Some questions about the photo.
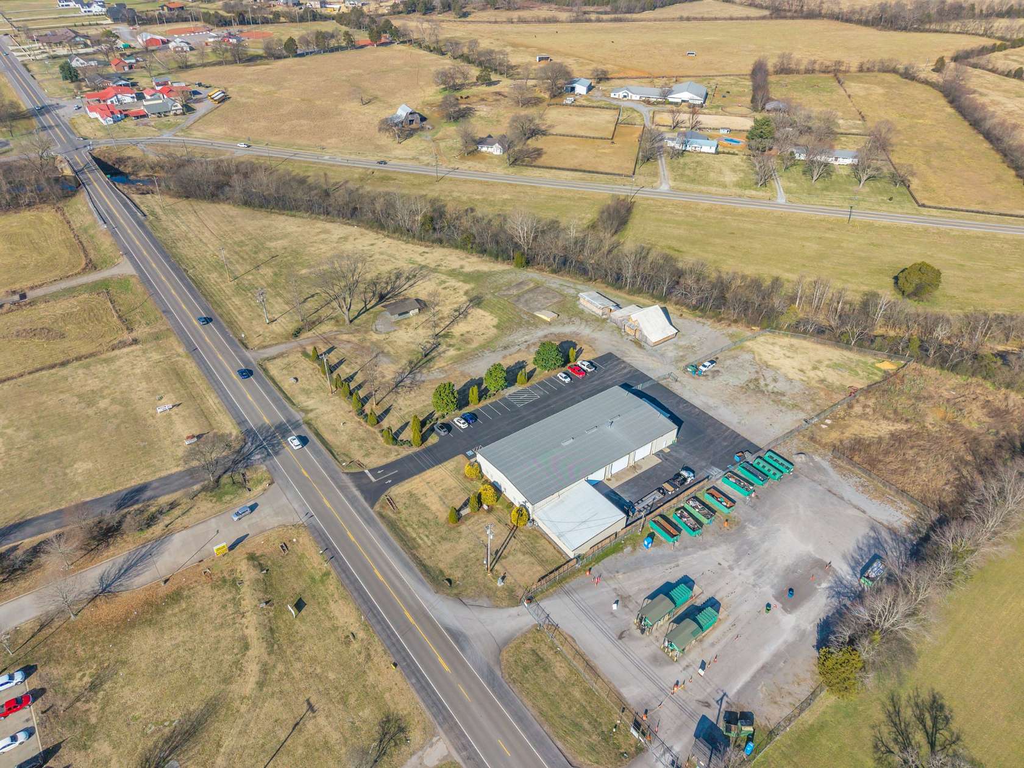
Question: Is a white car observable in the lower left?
Yes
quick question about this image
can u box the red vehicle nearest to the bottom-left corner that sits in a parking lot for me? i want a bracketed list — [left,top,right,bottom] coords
[0,691,33,720]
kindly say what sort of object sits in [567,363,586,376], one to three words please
vehicle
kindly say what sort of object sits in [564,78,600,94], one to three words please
shed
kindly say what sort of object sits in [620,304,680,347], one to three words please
barn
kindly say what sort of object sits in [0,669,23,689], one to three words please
car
